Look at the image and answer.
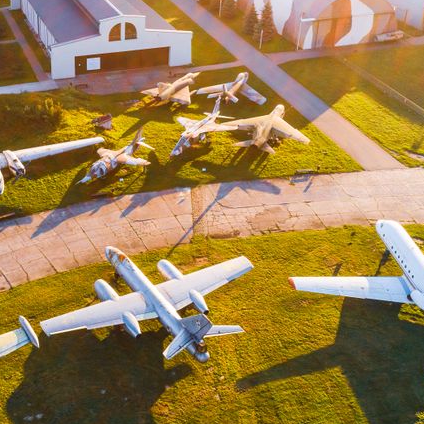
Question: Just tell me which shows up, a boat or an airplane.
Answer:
airplane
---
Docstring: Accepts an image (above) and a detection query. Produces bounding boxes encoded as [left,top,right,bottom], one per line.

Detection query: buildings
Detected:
[13,0,195,79]
[236,0,415,50]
